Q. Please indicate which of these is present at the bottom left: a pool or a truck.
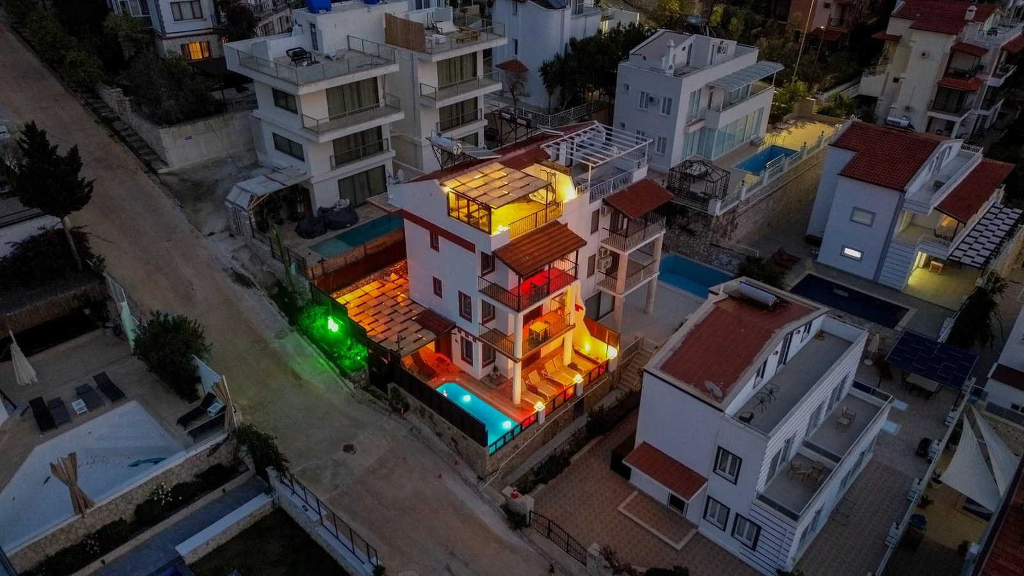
pool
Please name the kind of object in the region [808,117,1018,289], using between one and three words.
house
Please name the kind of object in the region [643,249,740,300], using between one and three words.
swimming pool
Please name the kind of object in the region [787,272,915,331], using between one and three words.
swimming pool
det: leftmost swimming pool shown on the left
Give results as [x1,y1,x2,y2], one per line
[0,402,186,548]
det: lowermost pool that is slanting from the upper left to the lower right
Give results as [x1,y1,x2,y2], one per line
[430,379,523,449]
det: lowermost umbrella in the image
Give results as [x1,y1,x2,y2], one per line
[44,467,88,520]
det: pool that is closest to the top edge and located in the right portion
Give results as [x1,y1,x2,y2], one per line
[729,145,801,175]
